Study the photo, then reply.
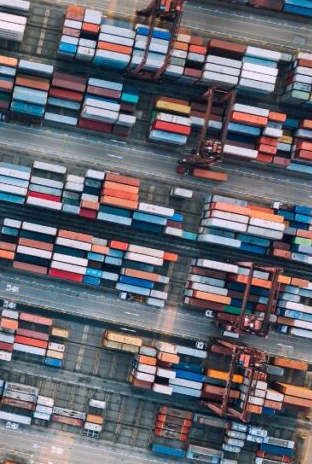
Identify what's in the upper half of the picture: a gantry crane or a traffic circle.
gantry crane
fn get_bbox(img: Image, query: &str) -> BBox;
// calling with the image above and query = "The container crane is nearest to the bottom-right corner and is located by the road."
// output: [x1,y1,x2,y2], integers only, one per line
[197,335,261,425]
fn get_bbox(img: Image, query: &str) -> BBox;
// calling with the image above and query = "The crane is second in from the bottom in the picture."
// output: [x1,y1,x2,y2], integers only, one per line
[214,257,280,340]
